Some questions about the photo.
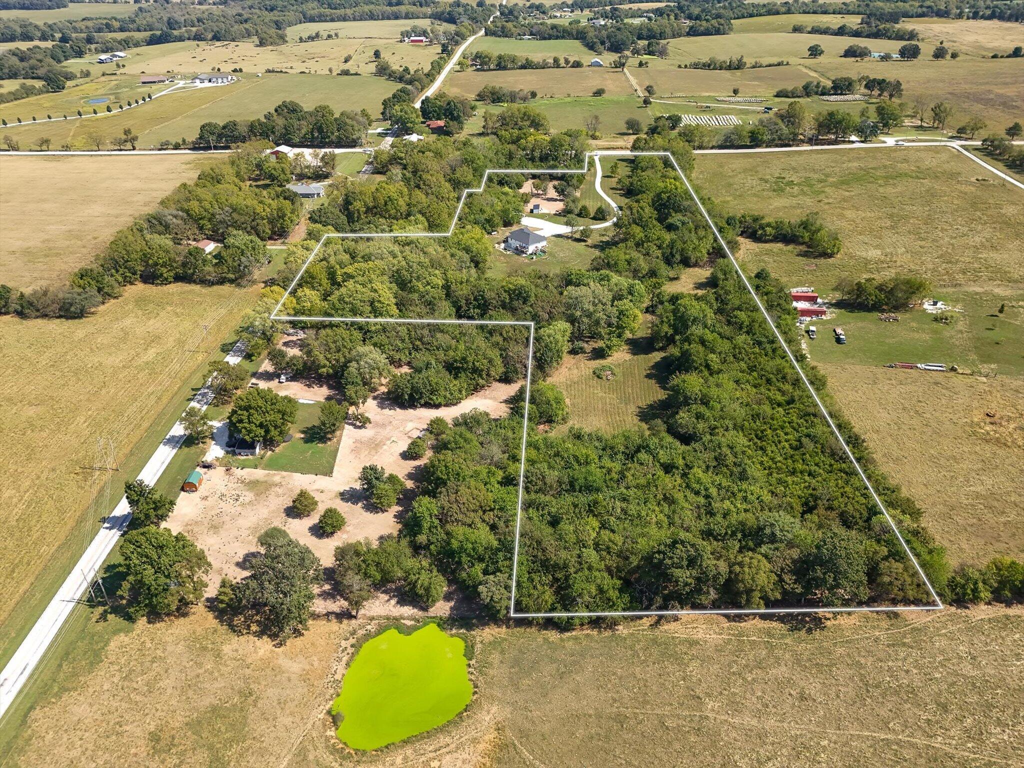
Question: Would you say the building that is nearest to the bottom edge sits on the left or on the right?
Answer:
left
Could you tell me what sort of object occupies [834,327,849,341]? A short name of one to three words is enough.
vehicle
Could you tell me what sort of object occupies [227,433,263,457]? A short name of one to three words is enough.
house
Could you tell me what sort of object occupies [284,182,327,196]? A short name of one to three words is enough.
house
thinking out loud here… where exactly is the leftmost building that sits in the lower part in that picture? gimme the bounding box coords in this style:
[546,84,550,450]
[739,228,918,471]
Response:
[180,467,204,493]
